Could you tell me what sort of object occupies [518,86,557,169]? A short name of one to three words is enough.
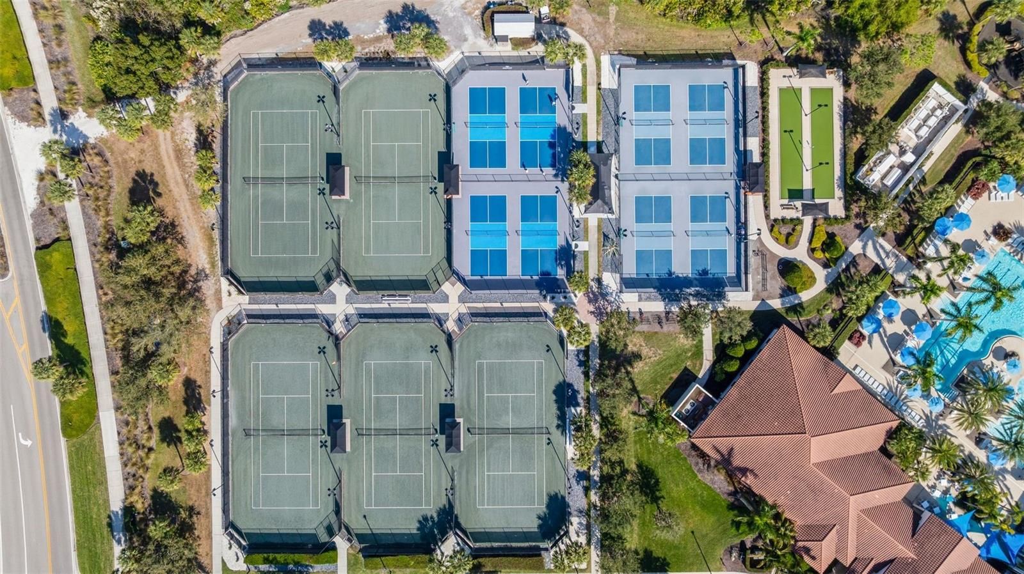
sports court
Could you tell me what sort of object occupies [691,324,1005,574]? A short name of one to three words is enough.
building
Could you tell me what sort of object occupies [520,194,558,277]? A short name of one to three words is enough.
sports court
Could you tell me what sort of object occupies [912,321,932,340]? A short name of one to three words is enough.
umbrella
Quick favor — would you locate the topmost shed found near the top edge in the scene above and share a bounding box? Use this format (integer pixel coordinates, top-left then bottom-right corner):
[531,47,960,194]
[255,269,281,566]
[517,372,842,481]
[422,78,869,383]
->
[494,9,534,40]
